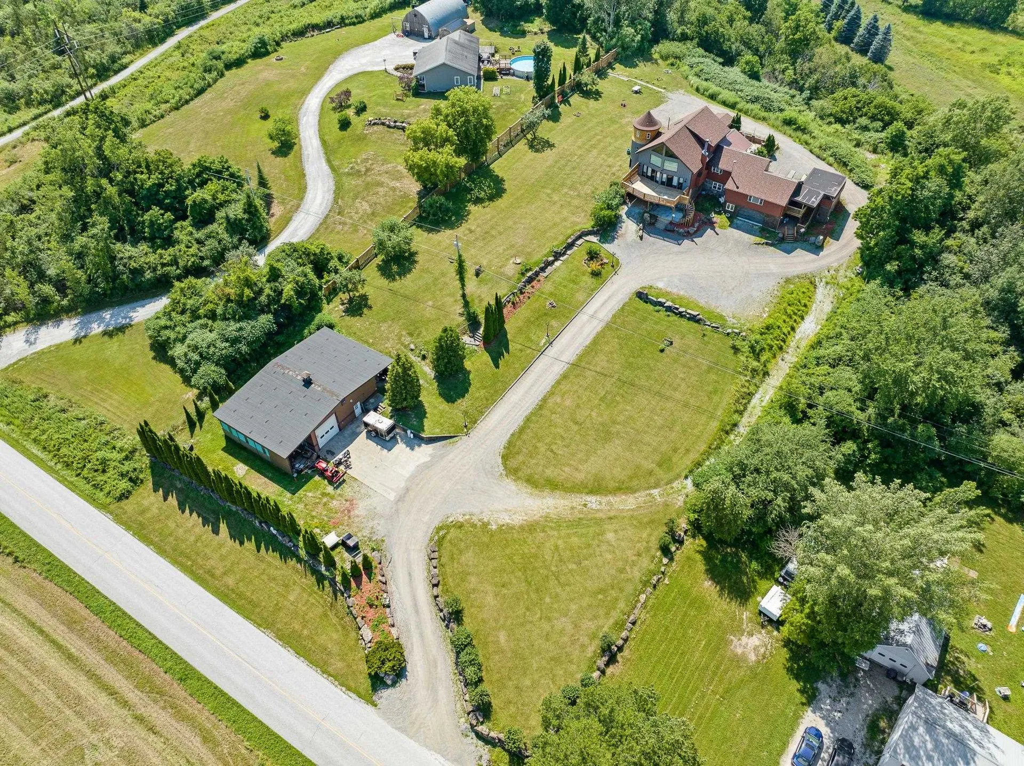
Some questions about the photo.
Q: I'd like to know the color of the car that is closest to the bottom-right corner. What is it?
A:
black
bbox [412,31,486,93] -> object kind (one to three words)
house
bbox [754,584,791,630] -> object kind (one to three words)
trailer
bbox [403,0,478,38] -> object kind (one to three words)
barn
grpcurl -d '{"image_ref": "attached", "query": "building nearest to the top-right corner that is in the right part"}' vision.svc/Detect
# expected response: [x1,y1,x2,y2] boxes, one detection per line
[620,103,849,240]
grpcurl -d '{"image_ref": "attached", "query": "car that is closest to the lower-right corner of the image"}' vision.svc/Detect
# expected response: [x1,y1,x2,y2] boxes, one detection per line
[831,733,856,766]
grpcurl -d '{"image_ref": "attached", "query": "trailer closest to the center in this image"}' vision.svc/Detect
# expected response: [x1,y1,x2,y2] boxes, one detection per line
[363,411,396,440]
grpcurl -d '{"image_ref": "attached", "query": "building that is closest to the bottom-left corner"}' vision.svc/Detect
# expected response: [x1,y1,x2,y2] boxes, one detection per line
[210,327,393,474]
